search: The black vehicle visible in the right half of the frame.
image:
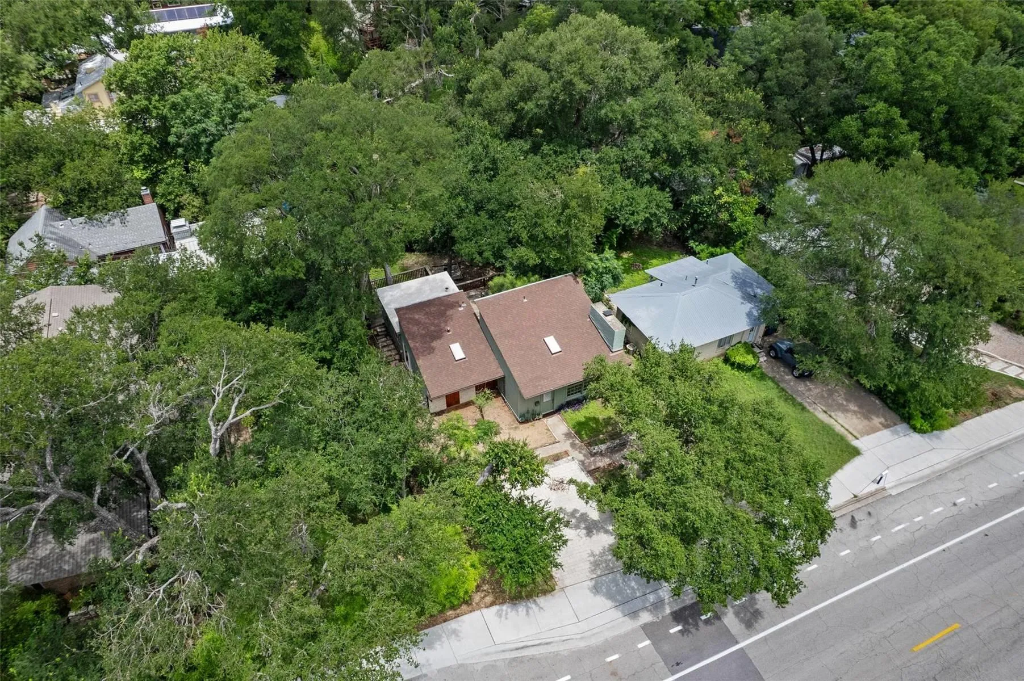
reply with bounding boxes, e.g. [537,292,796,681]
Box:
[769,338,824,379]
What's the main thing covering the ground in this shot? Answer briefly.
trees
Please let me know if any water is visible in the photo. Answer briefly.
No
